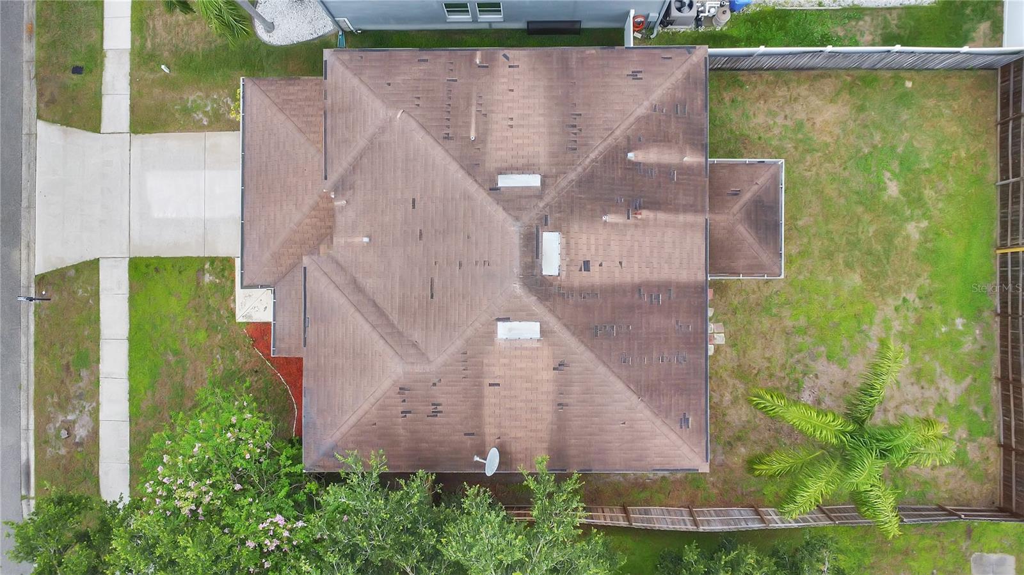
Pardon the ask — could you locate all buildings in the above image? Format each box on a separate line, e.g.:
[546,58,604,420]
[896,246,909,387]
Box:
[319,0,677,39]
[240,47,784,473]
